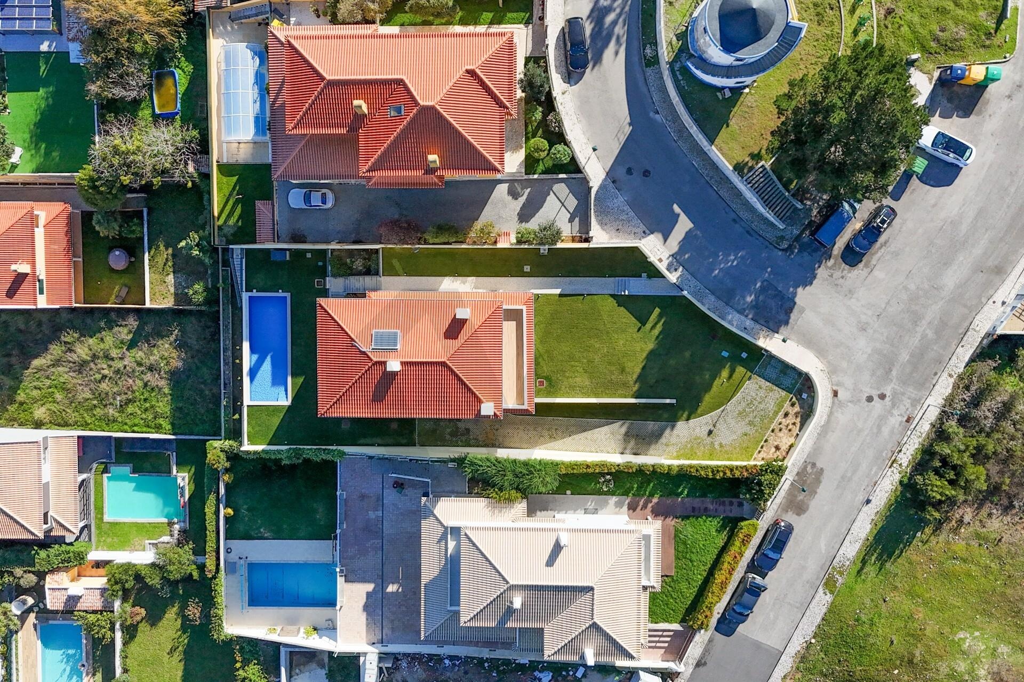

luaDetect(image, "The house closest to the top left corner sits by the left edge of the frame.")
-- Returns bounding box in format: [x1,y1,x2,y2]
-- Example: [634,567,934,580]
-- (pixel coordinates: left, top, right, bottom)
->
[0,201,86,307]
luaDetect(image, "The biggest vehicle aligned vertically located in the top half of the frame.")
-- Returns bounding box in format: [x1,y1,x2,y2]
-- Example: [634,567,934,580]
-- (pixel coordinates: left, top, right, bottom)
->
[566,19,590,73]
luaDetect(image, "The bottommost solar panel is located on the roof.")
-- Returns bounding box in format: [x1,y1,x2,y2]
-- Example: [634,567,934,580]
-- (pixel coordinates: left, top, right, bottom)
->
[352,330,401,352]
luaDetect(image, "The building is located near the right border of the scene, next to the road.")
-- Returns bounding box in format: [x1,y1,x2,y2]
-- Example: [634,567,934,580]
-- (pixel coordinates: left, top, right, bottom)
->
[980,278,1024,335]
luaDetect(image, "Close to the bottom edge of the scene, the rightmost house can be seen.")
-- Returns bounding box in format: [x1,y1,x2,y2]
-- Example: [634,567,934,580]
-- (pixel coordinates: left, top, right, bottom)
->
[420,495,663,666]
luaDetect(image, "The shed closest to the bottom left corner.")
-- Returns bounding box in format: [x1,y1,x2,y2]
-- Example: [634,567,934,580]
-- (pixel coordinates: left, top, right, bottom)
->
[45,558,128,612]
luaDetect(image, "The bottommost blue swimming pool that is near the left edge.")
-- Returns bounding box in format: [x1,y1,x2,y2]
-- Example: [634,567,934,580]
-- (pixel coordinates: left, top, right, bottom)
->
[36,619,87,682]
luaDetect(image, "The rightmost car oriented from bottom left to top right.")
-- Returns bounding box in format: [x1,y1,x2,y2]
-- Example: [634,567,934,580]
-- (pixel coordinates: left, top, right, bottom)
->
[850,203,895,255]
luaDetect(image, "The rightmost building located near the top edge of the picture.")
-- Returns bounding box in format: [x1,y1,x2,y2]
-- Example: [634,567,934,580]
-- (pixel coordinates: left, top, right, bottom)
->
[267,23,518,193]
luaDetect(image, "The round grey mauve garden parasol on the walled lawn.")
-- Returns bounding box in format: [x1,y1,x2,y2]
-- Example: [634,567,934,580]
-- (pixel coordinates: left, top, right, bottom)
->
[109,249,135,270]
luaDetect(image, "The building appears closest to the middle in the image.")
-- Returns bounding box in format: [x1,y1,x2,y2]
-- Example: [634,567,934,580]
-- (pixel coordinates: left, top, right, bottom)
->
[315,290,536,419]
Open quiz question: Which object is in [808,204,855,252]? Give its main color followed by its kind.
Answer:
blue van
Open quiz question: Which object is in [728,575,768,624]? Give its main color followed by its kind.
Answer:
blue car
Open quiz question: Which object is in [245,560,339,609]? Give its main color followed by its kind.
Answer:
blue swimming pool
